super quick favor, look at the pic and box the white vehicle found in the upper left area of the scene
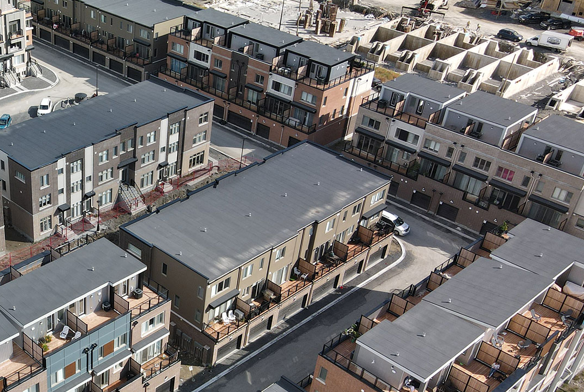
[36,96,50,116]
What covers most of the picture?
buildings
